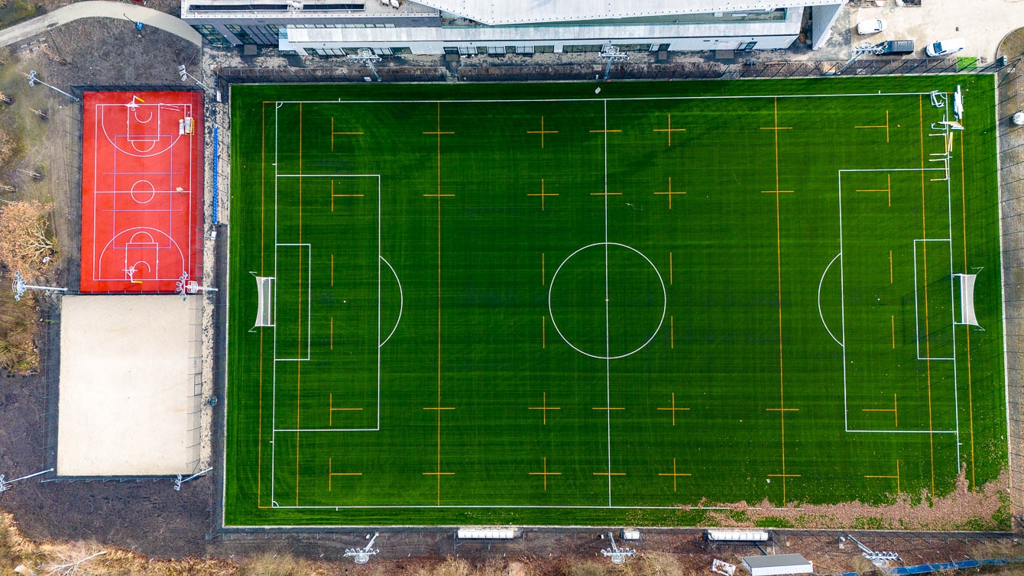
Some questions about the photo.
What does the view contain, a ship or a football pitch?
football pitch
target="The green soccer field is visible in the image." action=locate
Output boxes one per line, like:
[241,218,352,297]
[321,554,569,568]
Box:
[221,71,1016,536]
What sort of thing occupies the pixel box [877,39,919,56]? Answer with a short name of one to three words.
vehicle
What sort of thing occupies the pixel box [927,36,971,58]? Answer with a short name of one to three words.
vehicle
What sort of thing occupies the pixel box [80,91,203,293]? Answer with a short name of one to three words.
basketball court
